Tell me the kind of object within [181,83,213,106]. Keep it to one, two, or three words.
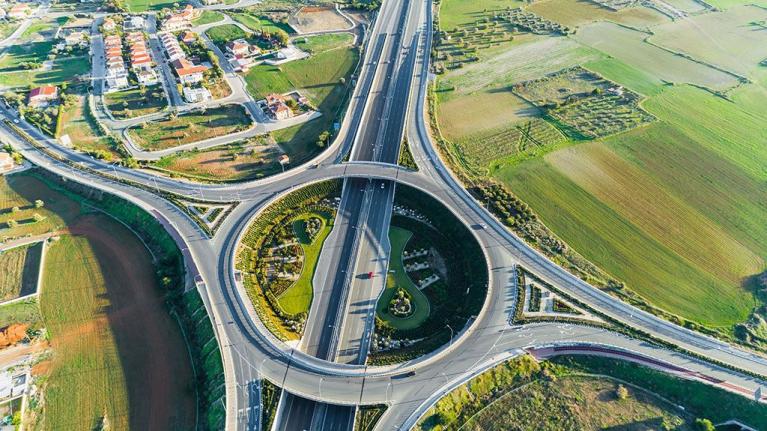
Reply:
house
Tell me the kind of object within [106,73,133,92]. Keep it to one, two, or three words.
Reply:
house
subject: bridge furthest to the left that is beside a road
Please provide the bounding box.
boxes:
[264,346,369,406]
